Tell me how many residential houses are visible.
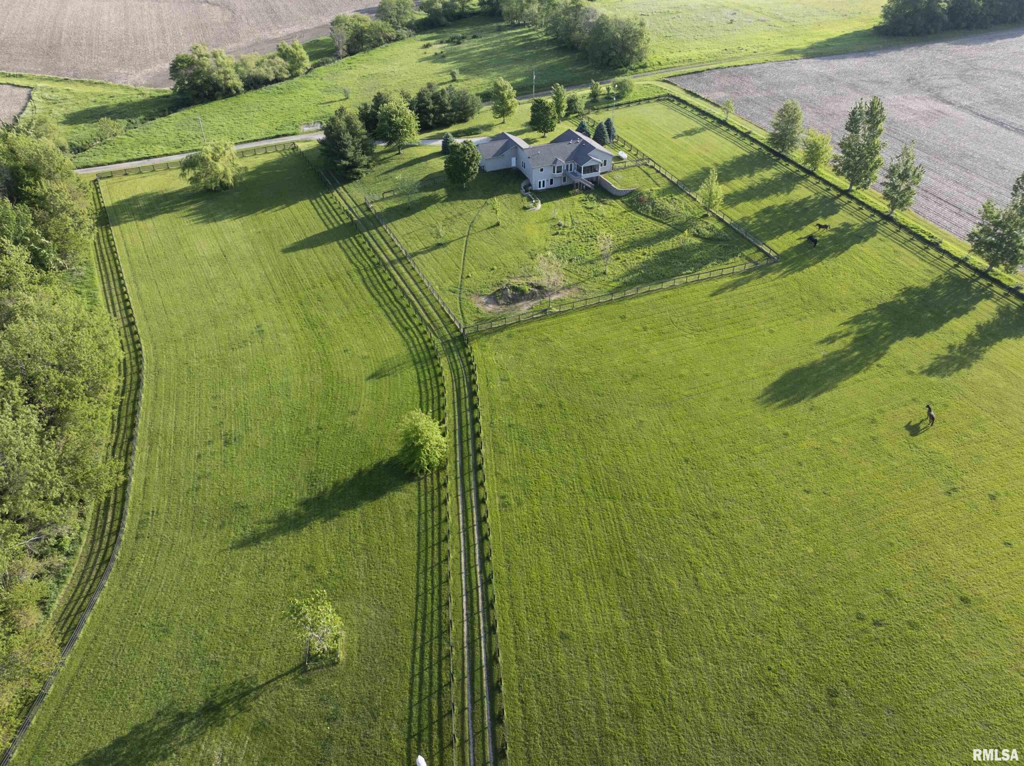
1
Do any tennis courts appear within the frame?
No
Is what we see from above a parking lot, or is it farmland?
farmland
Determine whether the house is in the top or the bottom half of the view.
top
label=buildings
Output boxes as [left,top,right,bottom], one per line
[474,129,615,190]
